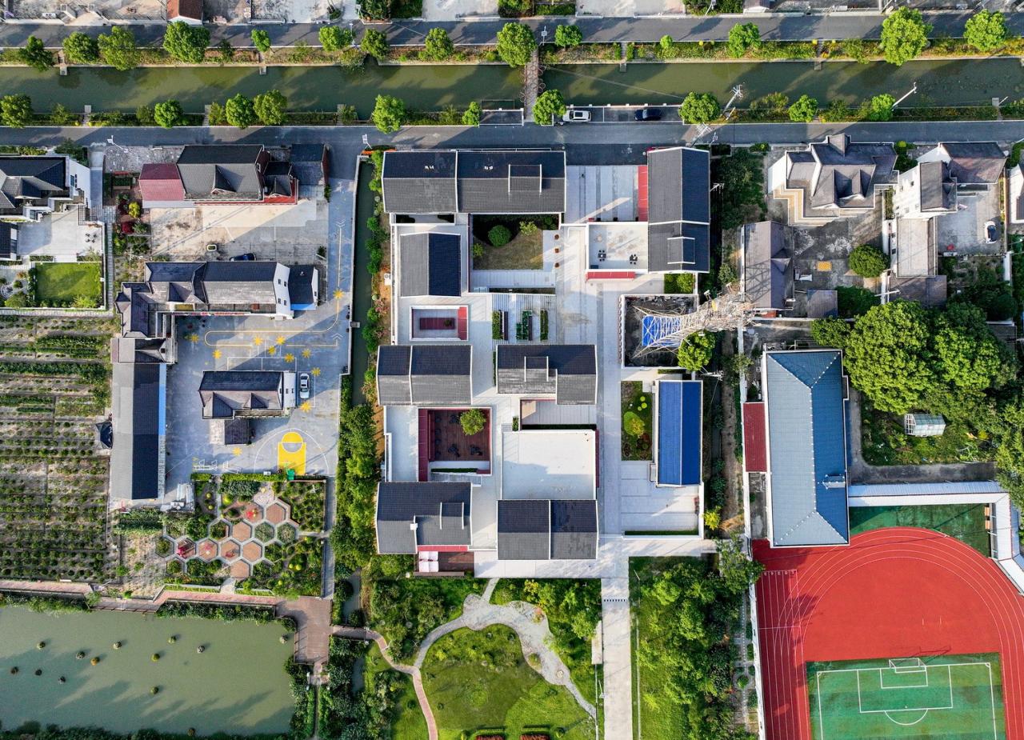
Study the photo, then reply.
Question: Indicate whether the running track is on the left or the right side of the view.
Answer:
right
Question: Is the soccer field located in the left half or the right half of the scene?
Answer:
right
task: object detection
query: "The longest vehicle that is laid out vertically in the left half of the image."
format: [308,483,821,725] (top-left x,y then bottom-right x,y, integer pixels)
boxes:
[297,372,311,400]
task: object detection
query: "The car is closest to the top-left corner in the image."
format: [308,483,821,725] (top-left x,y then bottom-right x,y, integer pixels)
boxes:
[229,250,258,262]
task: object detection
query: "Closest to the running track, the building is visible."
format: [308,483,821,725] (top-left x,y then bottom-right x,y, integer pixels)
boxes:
[758,348,851,548]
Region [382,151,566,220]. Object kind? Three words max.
building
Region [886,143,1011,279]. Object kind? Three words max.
house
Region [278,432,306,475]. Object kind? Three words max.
basketball court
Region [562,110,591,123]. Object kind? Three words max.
vehicle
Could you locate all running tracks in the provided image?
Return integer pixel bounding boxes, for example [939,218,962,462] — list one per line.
[752,526,1024,740]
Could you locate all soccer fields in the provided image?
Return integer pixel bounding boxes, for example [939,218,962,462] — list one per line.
[807,653,1008,740]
